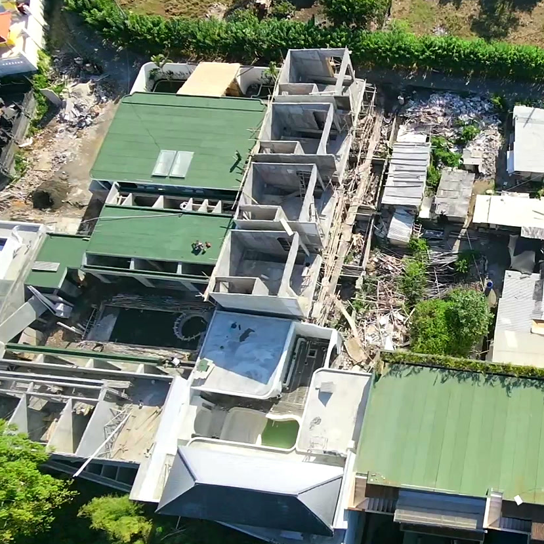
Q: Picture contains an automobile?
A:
No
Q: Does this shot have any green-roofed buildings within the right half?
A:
Yes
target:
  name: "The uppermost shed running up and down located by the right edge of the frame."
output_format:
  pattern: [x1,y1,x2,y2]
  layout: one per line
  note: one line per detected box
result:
[512,107,544,183]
